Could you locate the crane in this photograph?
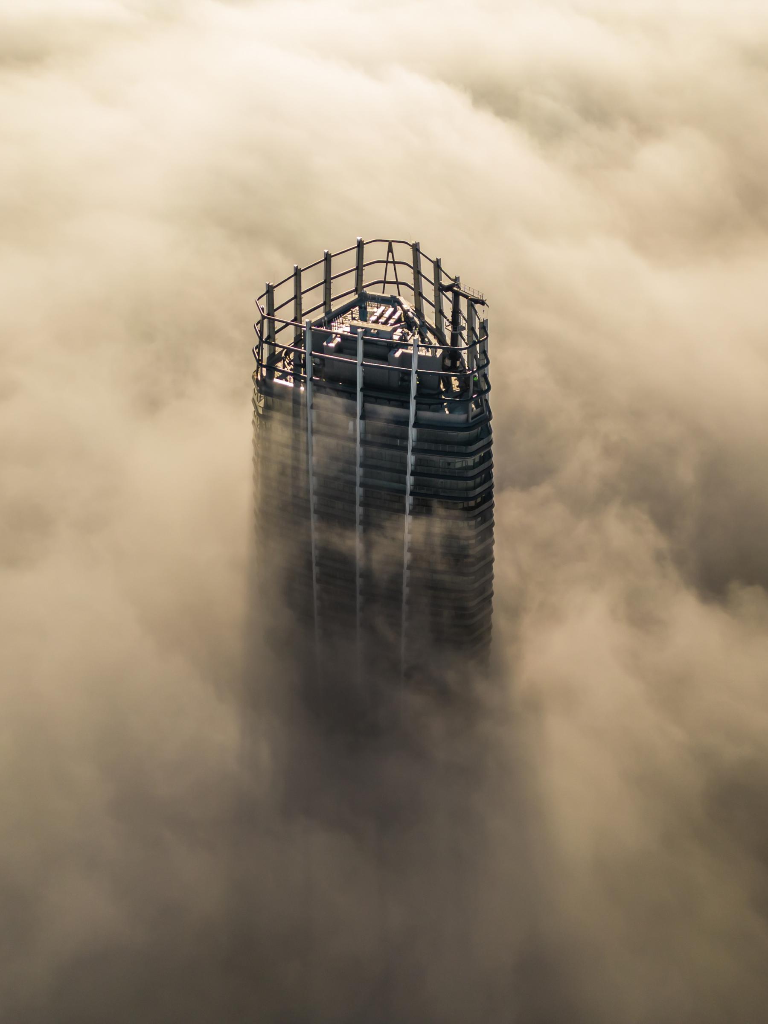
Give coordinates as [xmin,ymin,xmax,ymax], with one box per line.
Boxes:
[439,275,491,369]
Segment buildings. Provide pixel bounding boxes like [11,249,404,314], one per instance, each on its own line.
[253,235,492,1024]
